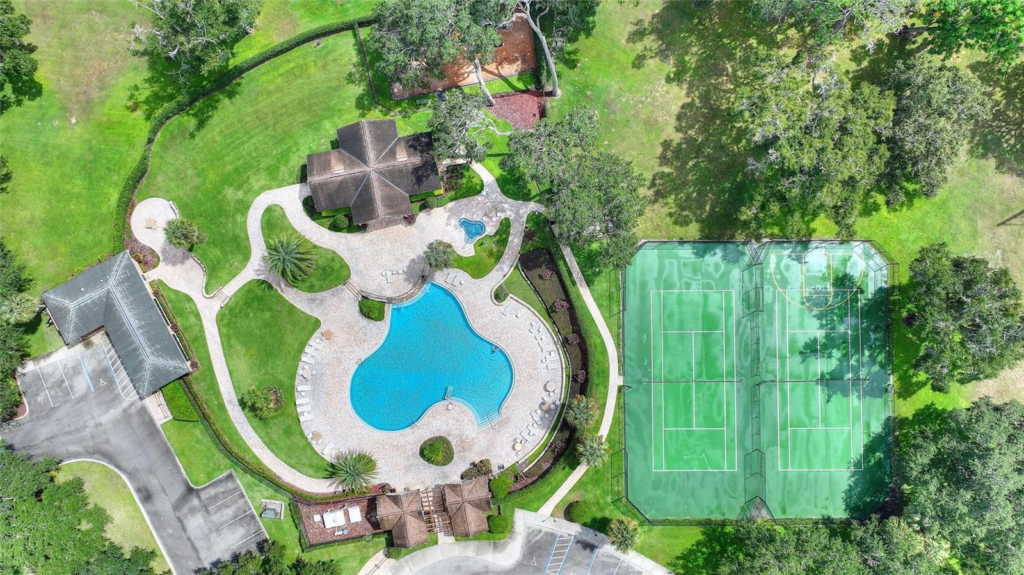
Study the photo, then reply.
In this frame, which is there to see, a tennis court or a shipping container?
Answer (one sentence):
Of the two, only a tennis court appears.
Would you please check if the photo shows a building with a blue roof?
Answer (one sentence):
No, no building with a blue roof can be seen from above.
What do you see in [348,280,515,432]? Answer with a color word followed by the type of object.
blue swimming pool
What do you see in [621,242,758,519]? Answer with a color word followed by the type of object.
green tennis court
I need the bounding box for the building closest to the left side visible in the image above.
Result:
[40,250,191,402]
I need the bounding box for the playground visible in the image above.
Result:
[389,5,537,99]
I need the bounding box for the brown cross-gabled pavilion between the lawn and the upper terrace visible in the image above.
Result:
[307,119,442,224]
